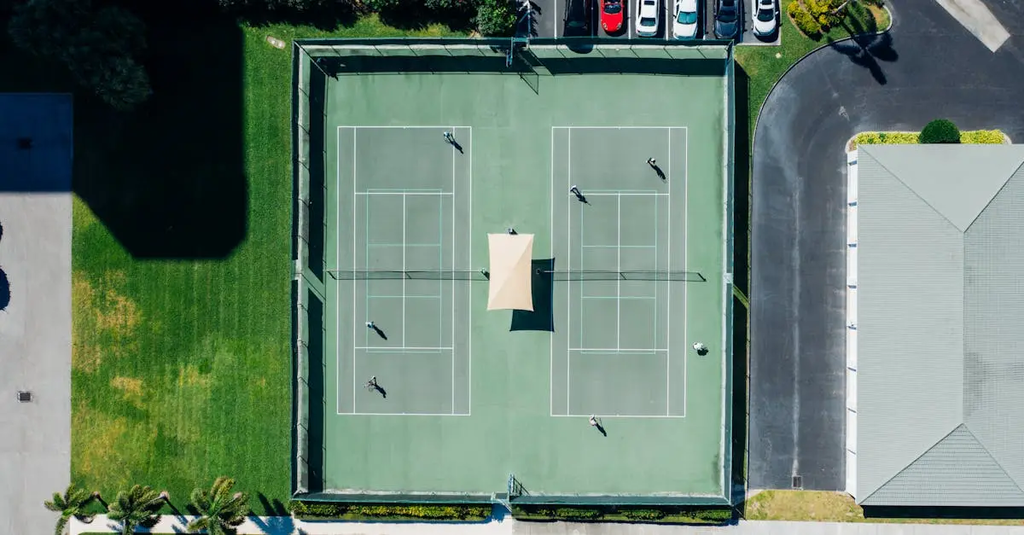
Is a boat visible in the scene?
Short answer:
No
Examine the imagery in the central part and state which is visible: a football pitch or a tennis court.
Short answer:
tennis court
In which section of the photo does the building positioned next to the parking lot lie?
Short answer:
right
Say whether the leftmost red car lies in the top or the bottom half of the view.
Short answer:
top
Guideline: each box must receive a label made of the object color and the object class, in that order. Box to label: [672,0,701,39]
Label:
white car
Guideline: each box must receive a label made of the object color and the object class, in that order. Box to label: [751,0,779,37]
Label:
white car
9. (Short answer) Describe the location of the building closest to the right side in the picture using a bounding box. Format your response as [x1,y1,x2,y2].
[846,144,1024,505]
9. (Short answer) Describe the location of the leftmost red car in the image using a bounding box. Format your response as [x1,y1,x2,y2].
[599,0,627,34]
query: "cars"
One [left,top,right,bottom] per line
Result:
[562,0,591,41]
[714,0,742,39]
[599,0,627,34]
[635,0,659,38]
[672,0,701,39]
[751,0,779,37]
